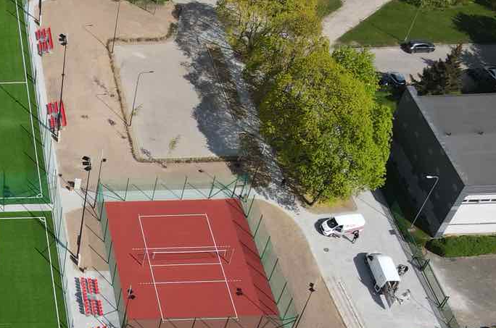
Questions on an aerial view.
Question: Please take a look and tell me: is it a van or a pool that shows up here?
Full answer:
There is a van in the scene.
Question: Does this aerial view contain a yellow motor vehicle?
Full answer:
No, I can't see a single yellow motor vehicle in this photo.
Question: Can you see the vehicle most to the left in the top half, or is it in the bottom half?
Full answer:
You can find the vehicle most to the left in the bottom half.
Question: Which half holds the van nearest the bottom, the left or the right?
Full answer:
The van nearest the bottom sits on the right side.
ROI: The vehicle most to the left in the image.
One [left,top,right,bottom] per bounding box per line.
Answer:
[322,214,369,241]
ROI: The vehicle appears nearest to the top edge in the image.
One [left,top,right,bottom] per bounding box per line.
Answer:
[403,42,435,55]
